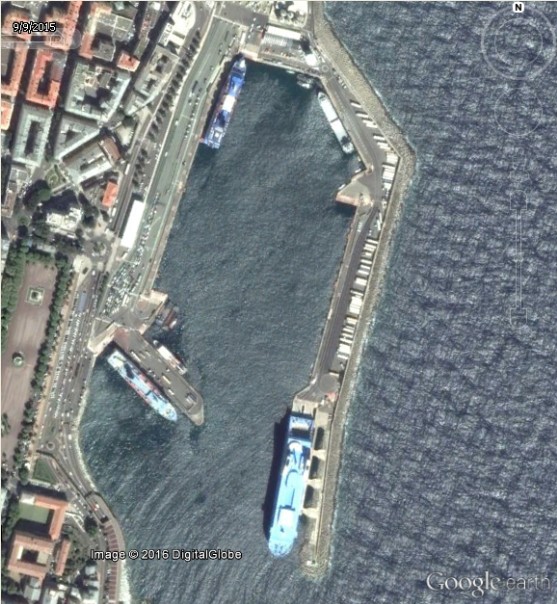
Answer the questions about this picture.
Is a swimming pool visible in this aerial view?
No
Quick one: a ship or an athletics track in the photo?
ship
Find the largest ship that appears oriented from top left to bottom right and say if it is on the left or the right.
left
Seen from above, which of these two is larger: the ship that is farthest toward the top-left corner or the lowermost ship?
the lowermost ship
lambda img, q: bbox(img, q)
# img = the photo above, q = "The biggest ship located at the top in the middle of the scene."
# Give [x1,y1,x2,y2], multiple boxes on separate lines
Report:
[204,57,244,150]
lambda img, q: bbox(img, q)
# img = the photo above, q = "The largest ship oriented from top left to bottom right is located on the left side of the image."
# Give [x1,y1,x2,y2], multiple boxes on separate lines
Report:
[107,351,176,422]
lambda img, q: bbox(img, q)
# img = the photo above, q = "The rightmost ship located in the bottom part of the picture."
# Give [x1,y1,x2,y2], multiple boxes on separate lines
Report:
[270,415,314,559]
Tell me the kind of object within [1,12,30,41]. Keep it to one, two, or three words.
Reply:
building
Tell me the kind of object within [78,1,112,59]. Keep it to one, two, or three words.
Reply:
building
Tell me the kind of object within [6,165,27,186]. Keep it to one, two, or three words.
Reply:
house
